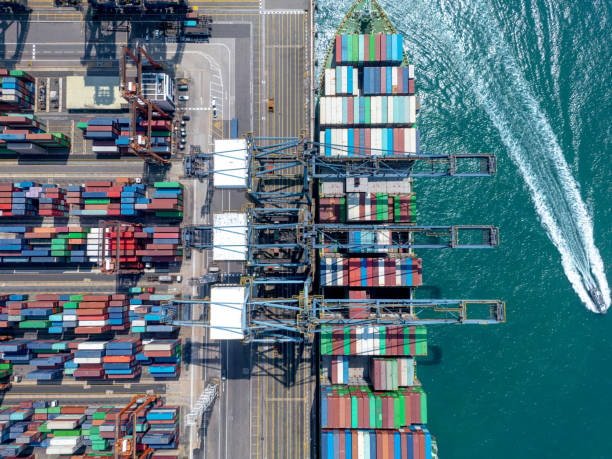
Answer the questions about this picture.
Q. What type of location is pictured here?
port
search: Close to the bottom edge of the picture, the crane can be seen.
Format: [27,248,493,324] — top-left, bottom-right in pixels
[114,396,159,459]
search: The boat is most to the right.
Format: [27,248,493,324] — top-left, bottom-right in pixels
[589,286,605,310]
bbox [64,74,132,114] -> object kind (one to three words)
shed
